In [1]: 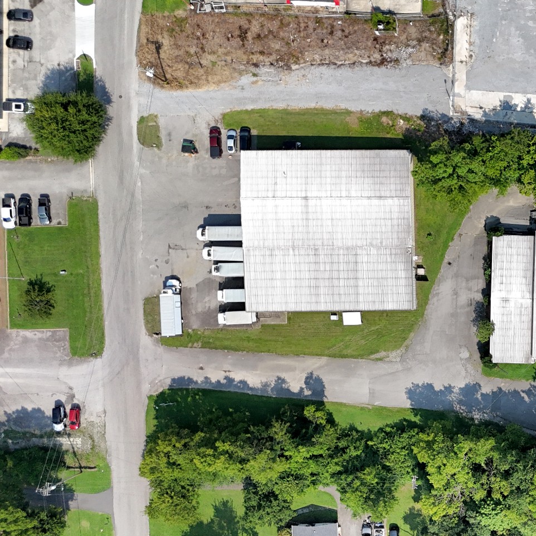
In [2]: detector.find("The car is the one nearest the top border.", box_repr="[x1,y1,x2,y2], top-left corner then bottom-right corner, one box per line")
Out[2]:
[12,8,35,21]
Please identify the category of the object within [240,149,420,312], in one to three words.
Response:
warehouse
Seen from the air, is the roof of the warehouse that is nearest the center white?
Yes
